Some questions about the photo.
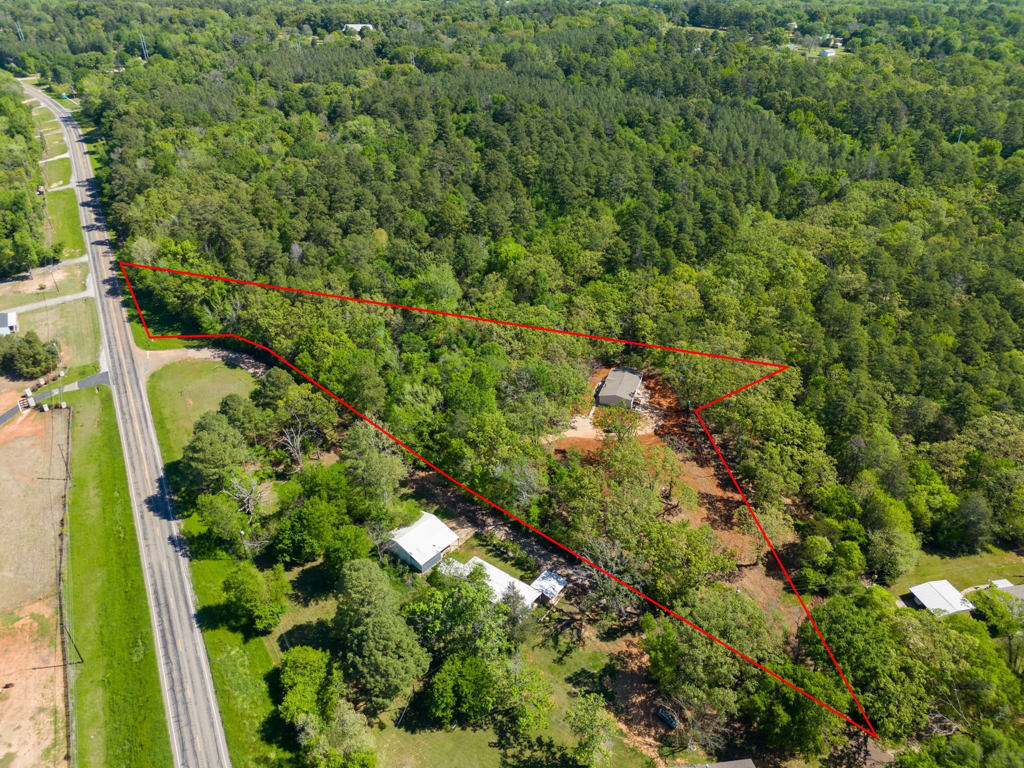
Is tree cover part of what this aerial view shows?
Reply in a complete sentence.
Yes, there is tree cover in the image.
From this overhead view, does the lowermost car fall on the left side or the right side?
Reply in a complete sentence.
The lowermost car is on the right side of the image.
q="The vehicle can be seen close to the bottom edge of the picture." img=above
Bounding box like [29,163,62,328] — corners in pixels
[654,706,679,732]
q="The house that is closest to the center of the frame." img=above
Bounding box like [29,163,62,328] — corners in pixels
[597,367,645,411]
